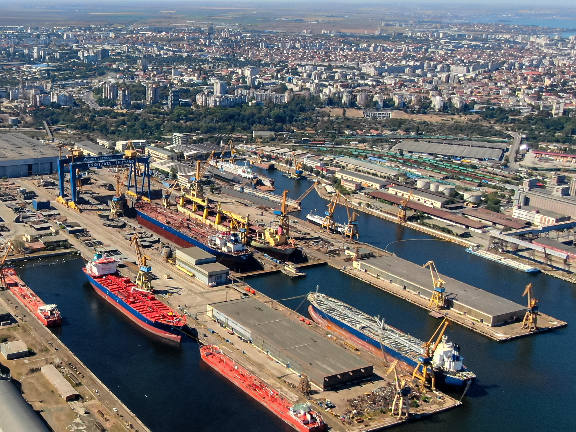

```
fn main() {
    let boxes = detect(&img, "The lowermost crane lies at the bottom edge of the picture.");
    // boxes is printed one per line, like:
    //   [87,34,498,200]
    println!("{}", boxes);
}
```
[377,356,421,425]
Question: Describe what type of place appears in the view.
port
